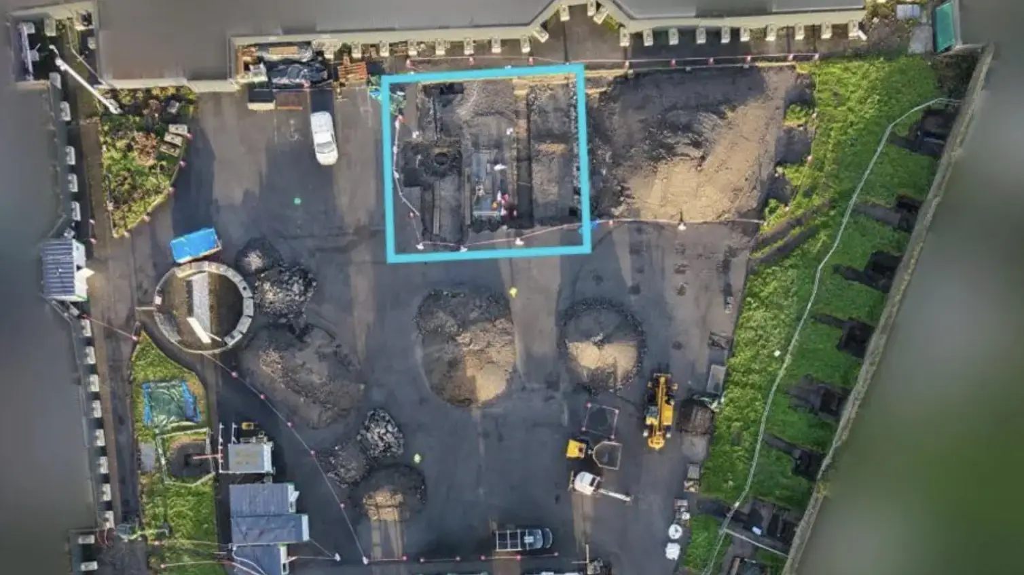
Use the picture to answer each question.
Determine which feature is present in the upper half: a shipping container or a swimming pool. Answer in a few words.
shipping container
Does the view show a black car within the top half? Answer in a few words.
No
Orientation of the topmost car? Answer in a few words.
from top to bottom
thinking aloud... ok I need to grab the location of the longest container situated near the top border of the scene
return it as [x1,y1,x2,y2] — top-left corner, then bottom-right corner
[924,1,954,61]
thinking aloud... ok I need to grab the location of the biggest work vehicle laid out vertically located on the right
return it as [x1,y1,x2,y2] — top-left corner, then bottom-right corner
[642,369,678,448]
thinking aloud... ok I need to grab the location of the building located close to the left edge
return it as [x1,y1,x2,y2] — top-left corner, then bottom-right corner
[42,238,99,302]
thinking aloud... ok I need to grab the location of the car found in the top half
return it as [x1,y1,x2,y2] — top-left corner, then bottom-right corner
[312,111,339,167]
